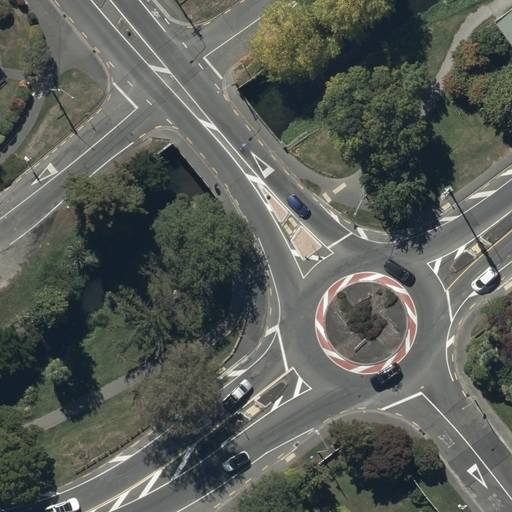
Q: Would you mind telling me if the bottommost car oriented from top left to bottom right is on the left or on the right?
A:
right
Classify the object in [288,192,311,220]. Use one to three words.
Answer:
car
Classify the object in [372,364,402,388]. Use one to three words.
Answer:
car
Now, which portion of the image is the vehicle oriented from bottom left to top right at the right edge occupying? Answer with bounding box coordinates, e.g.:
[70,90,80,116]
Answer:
[470,266,498,292]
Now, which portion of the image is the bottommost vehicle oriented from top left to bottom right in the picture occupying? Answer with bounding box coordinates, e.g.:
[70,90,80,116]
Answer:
[384,259,415,286]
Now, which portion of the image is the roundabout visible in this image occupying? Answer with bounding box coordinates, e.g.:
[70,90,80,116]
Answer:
[316,272,418,374]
